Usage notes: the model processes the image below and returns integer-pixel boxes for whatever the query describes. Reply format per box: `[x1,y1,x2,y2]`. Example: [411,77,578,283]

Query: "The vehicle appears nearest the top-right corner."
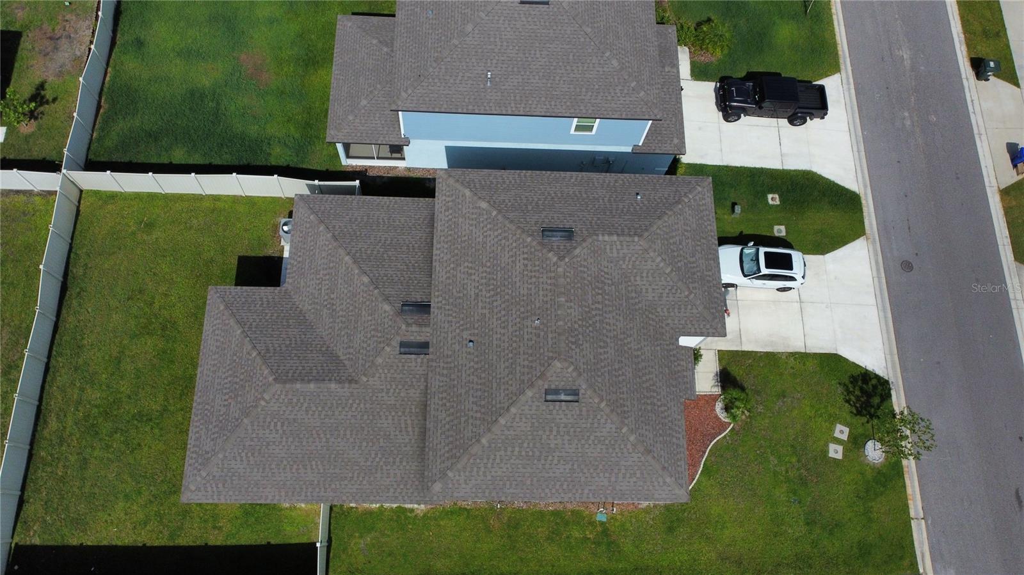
[716,76,829,126]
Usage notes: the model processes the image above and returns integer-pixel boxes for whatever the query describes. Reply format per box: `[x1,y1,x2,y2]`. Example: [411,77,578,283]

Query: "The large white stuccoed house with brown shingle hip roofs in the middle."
[181,169,726,509]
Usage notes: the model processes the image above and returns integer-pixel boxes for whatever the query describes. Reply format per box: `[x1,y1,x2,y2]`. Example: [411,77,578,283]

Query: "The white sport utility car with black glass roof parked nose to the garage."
[718,242,807,294]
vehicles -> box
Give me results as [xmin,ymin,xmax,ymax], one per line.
[718,242,807,294]
[716,76,829,126]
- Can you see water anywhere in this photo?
No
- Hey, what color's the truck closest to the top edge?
black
